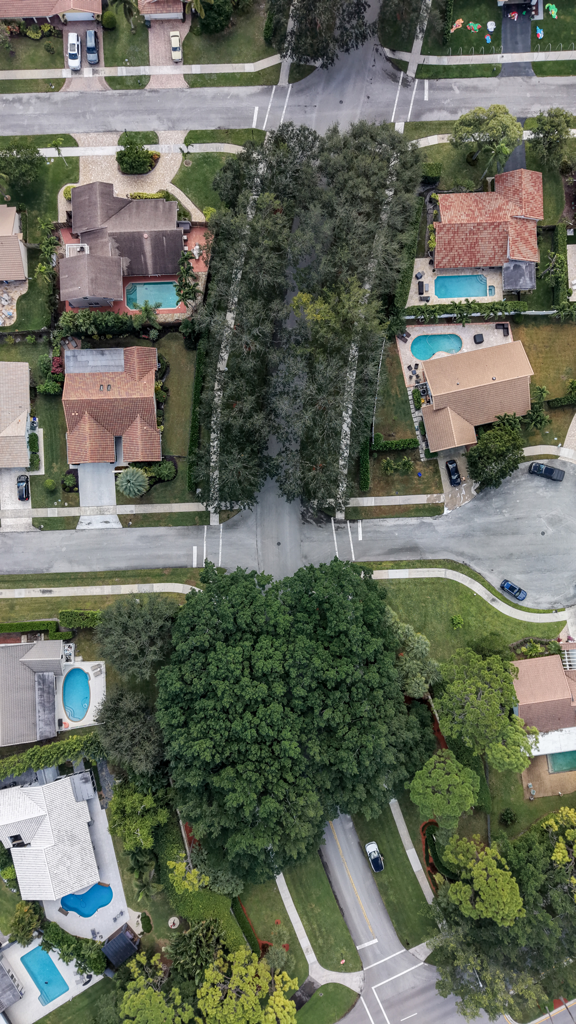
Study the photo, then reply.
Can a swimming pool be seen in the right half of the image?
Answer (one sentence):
Yes, a swimming pool can be seen in the right half of the image.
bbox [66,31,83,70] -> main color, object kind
white car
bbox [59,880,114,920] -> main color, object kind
blue swimming pool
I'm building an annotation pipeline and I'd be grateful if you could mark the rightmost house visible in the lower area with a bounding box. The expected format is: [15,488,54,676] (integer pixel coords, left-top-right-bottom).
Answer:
[508,640,576,761]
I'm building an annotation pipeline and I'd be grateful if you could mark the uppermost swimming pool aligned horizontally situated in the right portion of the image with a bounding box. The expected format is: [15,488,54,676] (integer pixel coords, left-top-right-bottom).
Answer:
[433,273,488,299]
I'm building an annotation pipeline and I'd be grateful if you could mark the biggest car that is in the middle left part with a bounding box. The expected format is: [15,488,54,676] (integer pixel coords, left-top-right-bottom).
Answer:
[15,474,31,501]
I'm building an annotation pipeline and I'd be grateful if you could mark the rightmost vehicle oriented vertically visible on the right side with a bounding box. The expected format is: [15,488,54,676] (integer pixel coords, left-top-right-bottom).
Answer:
[445,458,462,488]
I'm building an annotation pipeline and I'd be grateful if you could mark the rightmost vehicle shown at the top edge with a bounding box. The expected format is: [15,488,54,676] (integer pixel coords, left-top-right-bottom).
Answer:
[169,31,183,63]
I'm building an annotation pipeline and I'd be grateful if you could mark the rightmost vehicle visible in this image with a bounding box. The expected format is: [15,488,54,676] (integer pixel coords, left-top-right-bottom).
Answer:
[527,462,566,482]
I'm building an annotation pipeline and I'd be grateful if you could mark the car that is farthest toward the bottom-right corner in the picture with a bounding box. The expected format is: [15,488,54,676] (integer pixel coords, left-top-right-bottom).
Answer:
[365,839,384,876]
